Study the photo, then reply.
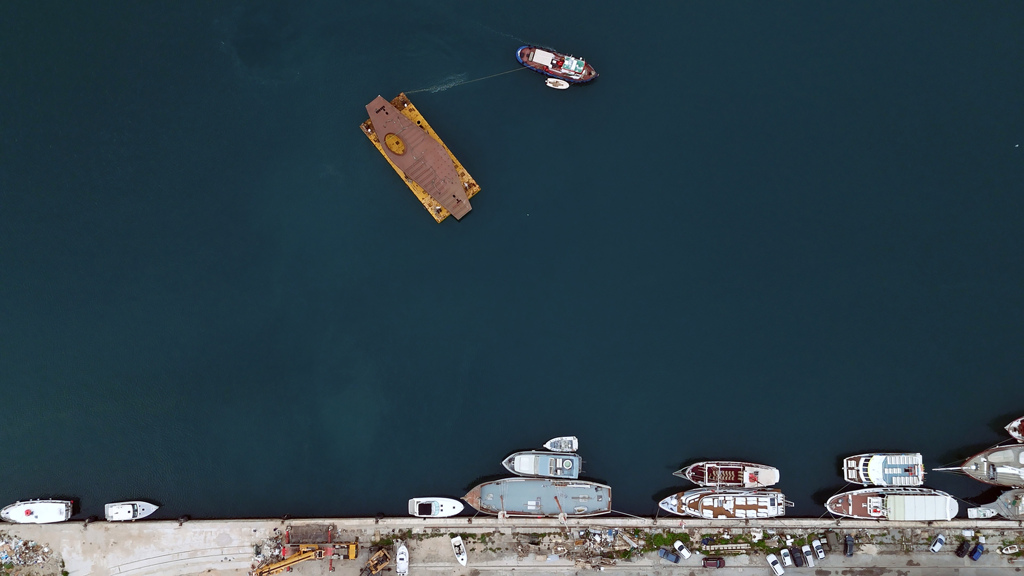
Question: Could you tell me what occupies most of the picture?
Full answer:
The largest share of the image is taken up by water.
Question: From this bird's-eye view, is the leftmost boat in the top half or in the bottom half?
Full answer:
The bottom half of the photo is where the leftmost boat is.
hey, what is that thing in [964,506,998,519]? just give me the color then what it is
white boat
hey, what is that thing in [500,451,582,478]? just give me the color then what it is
white boat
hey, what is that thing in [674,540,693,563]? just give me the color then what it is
white car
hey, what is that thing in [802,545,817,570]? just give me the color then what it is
white car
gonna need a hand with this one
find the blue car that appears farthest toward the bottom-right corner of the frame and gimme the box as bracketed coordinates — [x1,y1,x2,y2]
[970,544,986,564]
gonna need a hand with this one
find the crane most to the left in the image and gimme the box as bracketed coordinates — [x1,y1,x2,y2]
[248,526,359,576]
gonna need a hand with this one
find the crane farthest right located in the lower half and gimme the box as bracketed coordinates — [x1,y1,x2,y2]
[357,545,393,576]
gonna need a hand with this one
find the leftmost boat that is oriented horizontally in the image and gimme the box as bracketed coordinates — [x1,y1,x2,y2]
[0,500,75,525]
